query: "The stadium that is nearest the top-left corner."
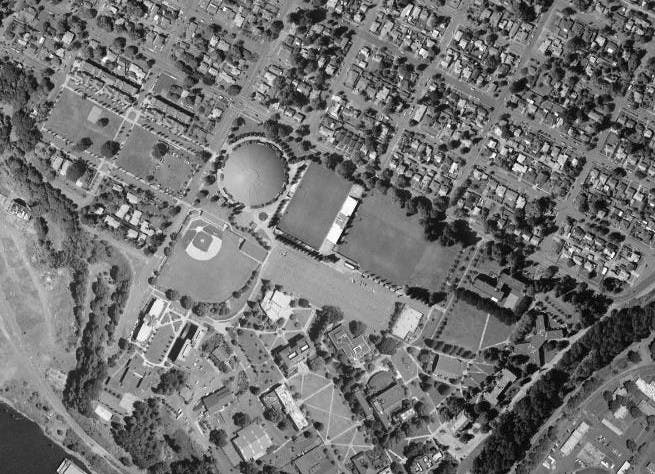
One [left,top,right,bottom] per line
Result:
[224,141,288,206]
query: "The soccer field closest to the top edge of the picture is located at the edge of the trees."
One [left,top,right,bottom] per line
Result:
[280,164,351,246]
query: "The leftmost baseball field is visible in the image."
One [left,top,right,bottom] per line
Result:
[154,210,261,303]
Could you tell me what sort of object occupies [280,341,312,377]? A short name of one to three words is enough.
building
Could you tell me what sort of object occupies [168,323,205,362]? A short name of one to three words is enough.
building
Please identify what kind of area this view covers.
residential area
